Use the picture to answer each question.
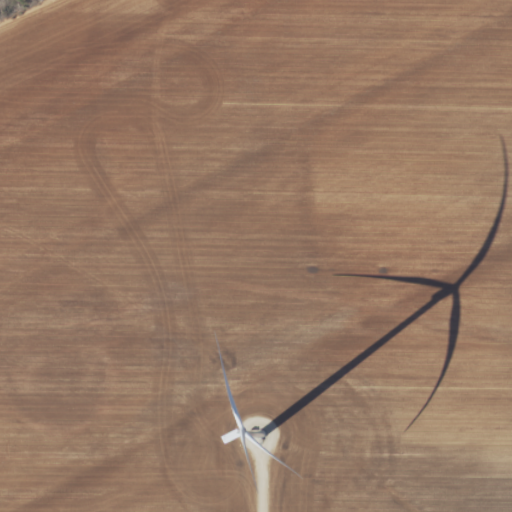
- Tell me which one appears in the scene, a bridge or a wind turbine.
wind turbine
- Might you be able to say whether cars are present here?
No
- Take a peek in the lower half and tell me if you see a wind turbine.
Yes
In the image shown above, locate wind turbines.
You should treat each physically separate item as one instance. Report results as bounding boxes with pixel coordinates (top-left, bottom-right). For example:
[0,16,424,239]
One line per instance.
[213,328,317,490]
